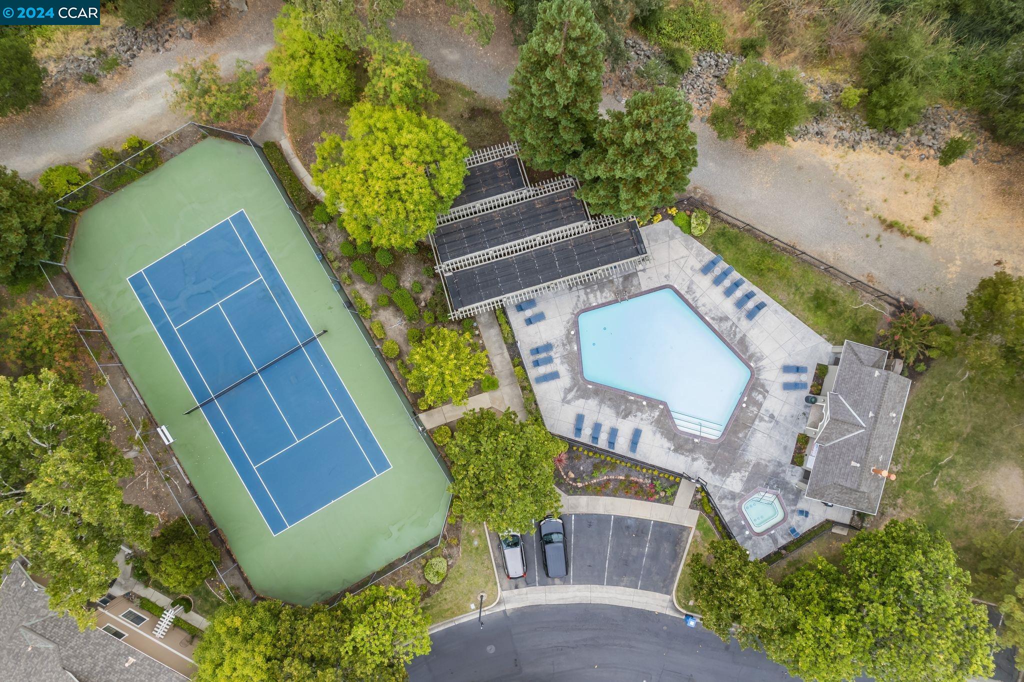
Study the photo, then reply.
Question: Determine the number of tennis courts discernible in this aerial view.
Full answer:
The picture shows 1 tennis court.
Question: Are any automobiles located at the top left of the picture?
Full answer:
No, at the top left of the picture there is no automobile.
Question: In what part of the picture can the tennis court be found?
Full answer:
Look in the left portion of the view to spot the tennis court.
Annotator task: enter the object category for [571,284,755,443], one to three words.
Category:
swimming pool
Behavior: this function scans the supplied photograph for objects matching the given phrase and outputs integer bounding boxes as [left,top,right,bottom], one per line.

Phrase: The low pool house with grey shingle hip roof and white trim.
[798,339,912,515]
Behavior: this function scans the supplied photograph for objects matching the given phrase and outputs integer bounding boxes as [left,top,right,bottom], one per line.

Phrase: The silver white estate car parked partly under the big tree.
[498,527,526,585]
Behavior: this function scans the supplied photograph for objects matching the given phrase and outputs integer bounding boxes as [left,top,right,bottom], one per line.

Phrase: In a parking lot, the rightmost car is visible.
[539,515,568,579]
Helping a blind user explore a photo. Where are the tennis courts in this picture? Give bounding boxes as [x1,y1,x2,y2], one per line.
[66,136,454,606]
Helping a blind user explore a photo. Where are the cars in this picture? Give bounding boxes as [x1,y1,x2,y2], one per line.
[539,515,568,579]
[498,527,526,585]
